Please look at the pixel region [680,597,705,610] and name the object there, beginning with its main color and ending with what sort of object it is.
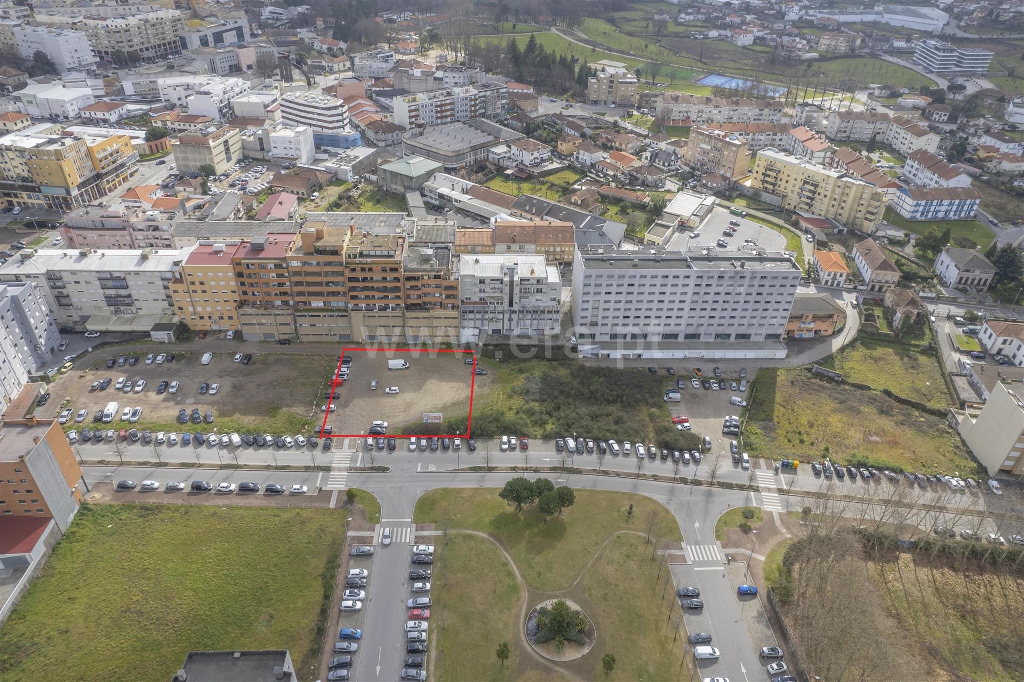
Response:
gray vehicle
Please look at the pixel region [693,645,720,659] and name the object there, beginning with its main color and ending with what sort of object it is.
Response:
white vehicle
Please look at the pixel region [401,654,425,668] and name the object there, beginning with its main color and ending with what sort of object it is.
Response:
gray car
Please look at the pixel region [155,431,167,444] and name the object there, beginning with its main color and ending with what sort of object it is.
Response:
white vehicle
